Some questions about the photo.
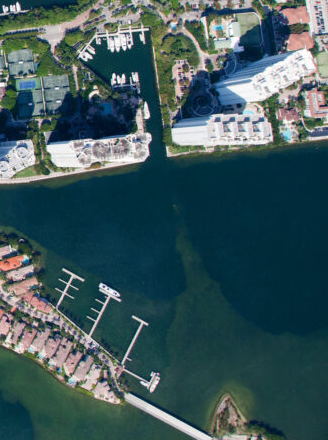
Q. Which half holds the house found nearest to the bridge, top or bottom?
bottom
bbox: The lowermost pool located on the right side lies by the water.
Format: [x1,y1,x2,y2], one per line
[281,123,295,141]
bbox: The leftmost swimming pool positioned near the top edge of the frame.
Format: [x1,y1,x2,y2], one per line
[210,18,227,40]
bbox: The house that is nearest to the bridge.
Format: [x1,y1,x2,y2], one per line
[88,379,122,405]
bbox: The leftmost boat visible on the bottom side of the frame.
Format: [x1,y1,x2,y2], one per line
[99,283,121,296]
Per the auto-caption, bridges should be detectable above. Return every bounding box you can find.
[121,393,214,440]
